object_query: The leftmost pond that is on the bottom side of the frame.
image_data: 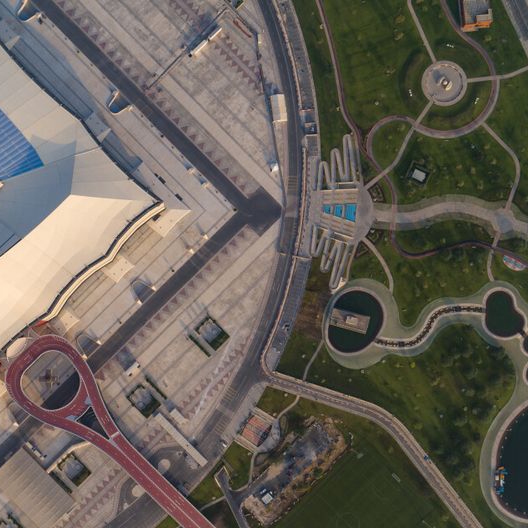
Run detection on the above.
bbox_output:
[330,292,382,350]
